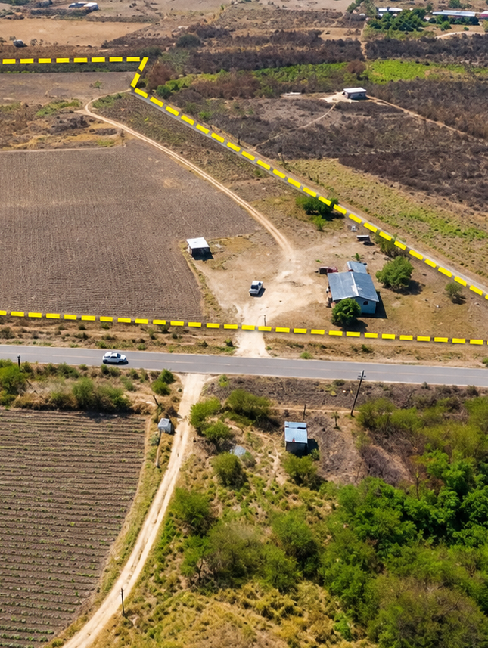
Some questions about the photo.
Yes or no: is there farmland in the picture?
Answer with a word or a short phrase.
Yes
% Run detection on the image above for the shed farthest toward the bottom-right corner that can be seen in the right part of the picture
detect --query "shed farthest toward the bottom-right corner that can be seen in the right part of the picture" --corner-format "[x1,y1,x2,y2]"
[280,419,311,453]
